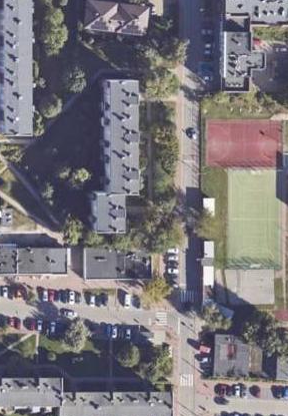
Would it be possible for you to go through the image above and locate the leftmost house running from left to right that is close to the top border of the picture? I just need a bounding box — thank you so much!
[84,0,150,36]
